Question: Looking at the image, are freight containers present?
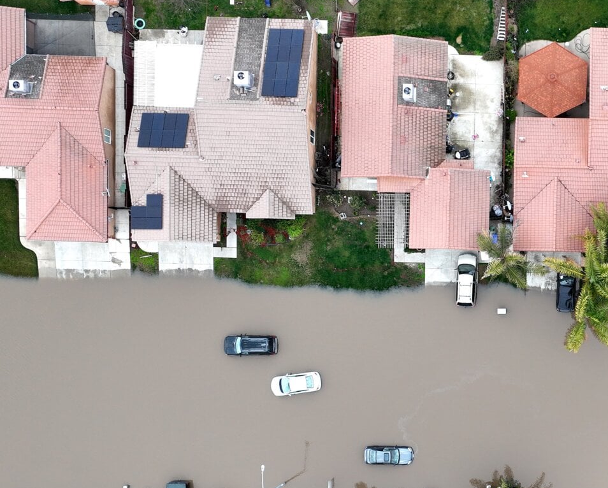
No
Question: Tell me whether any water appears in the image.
Yes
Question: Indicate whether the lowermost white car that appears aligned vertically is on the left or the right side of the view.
right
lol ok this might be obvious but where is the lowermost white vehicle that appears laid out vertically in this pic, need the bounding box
[454,254,479,307]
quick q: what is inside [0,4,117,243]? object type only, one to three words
house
